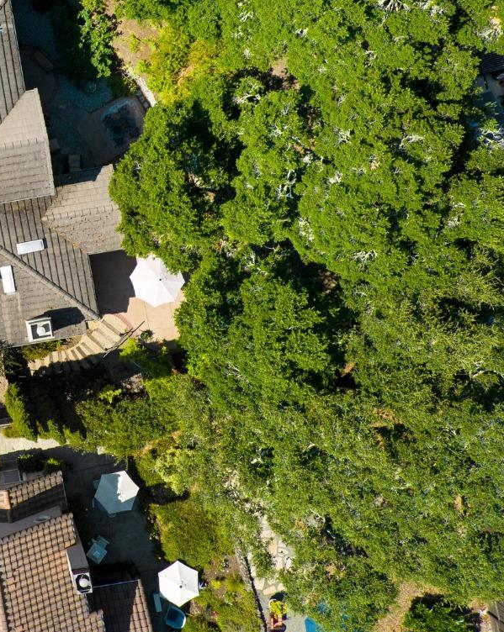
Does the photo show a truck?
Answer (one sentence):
No, the photo shows no truck.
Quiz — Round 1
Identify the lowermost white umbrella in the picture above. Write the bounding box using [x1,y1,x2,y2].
[157,555,199,602]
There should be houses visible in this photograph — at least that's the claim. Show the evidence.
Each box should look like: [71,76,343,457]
[0,454,153,632]
[0,0,128,351]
